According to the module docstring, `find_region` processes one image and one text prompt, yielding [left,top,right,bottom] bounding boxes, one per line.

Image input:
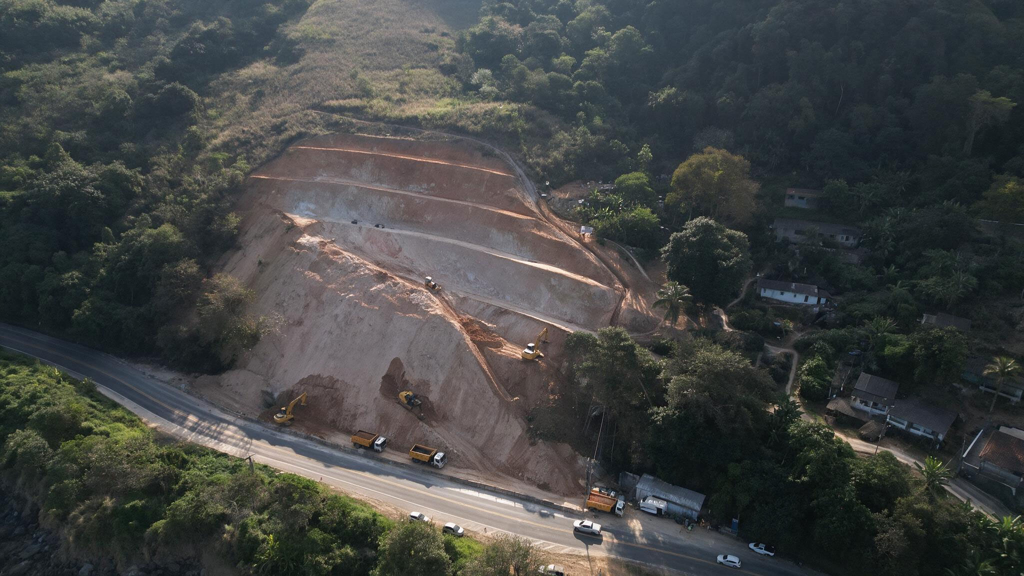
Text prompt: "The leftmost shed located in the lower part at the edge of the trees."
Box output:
[637,473,705,523]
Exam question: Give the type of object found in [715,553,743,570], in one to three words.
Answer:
car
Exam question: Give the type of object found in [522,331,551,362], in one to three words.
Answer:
work vehicle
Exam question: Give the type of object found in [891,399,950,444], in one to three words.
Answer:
house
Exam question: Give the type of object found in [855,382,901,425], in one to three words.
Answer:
house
